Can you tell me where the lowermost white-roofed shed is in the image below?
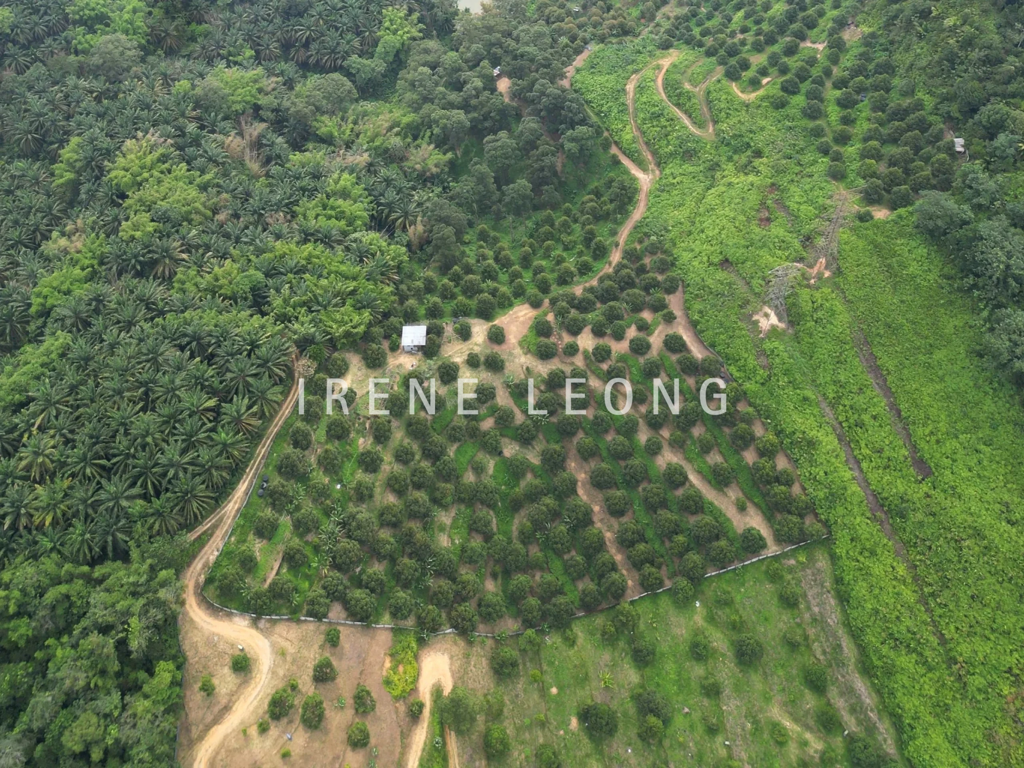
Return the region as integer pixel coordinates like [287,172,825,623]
[402,326,426,352]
